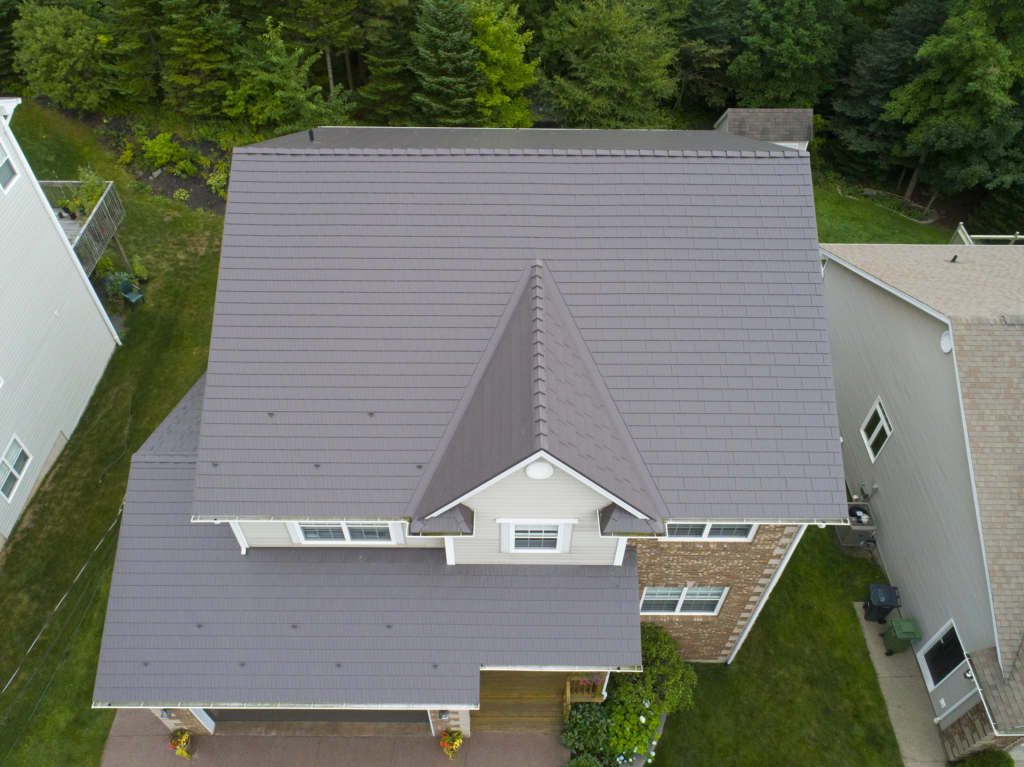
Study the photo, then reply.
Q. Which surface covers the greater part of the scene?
buildings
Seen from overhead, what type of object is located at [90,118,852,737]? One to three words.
house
